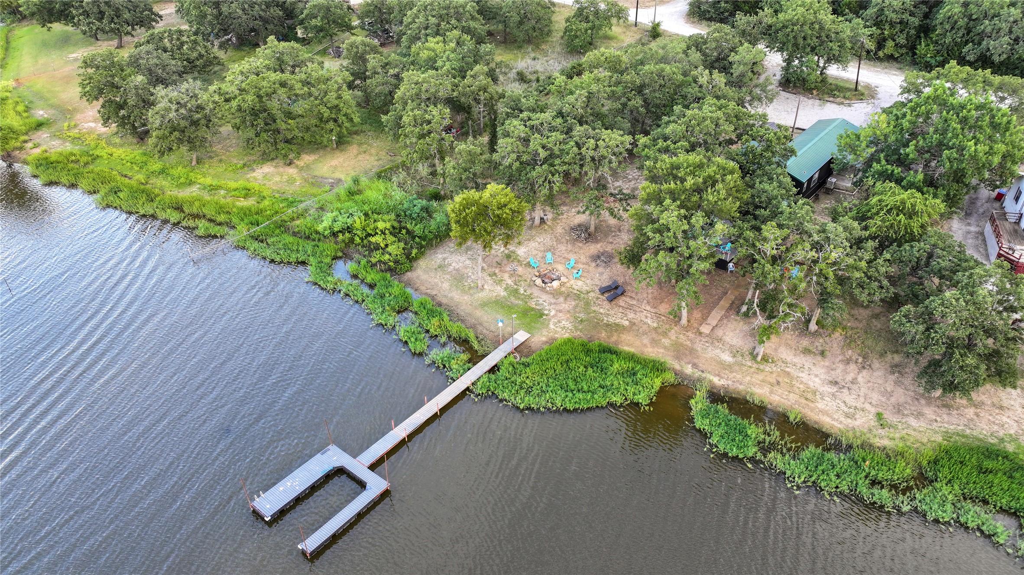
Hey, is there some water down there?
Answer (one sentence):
Yes, water can be seen from above here.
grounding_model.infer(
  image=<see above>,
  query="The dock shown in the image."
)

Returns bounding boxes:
[243,419,391,562]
